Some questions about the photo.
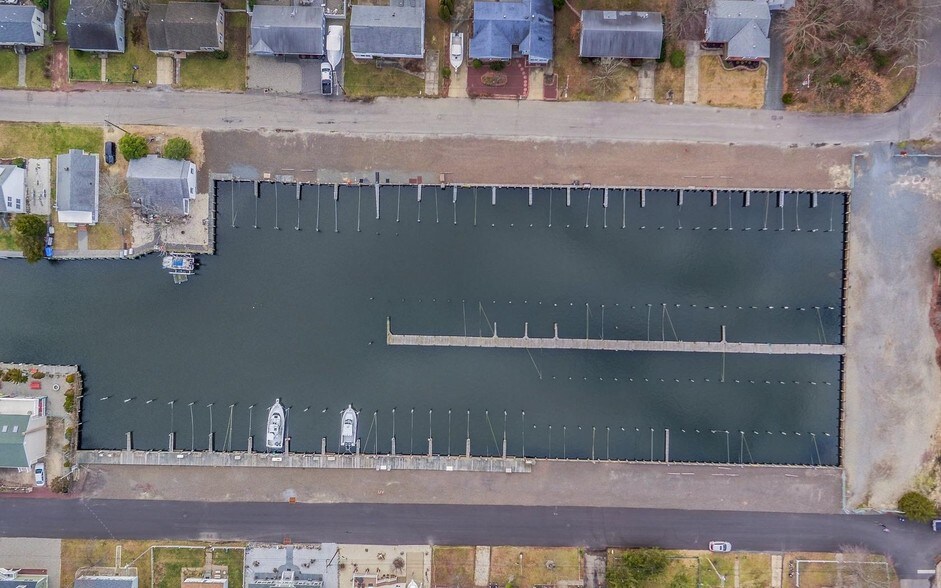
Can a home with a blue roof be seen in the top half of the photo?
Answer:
Yes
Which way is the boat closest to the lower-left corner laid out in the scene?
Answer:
vertically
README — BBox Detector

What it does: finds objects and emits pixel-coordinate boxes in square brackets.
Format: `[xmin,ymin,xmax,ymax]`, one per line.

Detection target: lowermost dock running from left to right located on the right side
[387,335,848,356]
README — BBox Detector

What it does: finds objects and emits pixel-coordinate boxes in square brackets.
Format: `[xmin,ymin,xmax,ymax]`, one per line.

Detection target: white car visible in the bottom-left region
[33,462,47,486]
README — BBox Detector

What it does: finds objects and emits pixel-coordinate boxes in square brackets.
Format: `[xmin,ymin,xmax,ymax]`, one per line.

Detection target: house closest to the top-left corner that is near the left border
[0,4,45,54]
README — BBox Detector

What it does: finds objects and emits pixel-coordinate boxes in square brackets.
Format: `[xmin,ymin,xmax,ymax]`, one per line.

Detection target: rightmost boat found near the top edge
[450,28,463,71]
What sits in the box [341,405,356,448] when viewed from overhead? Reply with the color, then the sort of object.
white boat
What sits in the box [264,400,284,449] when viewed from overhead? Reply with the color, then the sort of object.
white boat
